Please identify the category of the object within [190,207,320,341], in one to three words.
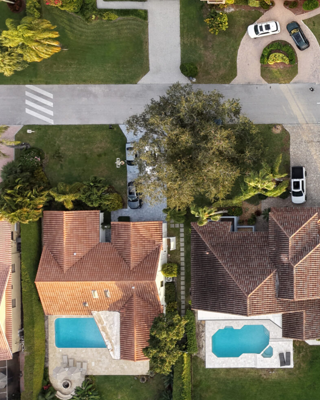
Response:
house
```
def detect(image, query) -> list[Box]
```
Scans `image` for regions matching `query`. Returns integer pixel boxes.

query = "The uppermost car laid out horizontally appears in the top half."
[249,20,281,39]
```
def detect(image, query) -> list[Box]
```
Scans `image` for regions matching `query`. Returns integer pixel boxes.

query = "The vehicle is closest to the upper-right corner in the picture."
[287,20,311,52]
